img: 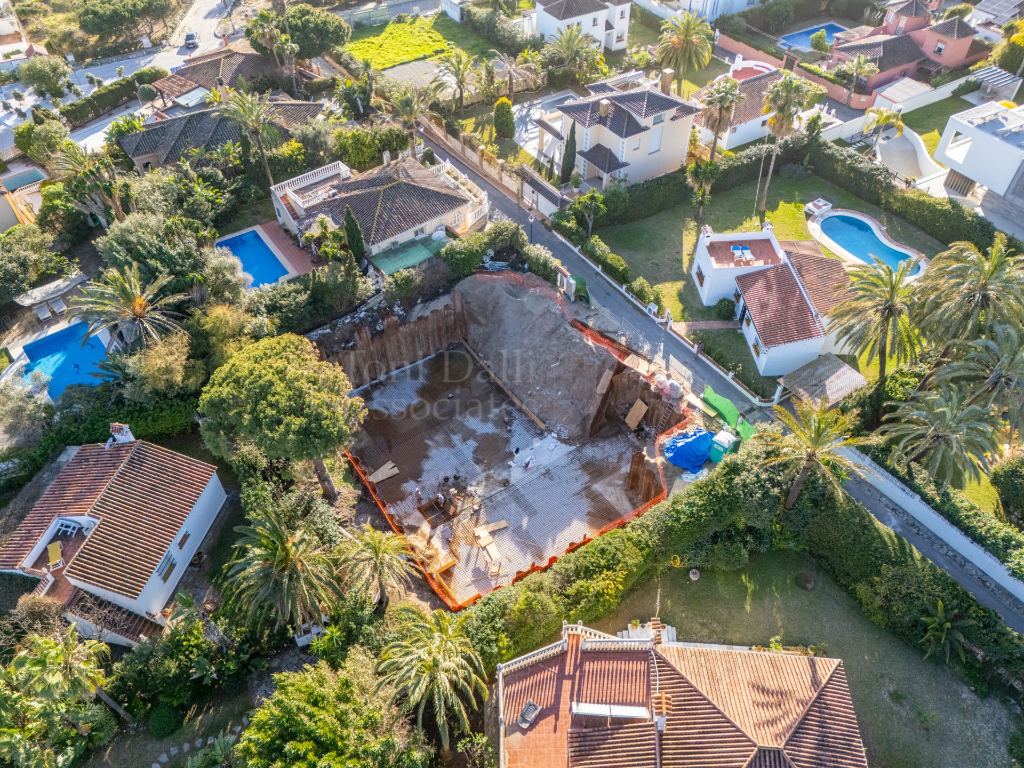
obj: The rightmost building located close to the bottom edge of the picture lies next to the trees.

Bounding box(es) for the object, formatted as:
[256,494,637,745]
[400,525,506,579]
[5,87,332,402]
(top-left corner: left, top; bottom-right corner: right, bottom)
[493,581,871,768]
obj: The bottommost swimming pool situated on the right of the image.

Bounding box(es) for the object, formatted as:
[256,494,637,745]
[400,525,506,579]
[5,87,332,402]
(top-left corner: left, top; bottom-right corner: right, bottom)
[807,207,939,287]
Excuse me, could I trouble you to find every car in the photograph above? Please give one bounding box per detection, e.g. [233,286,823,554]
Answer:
[183,25,201,46]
